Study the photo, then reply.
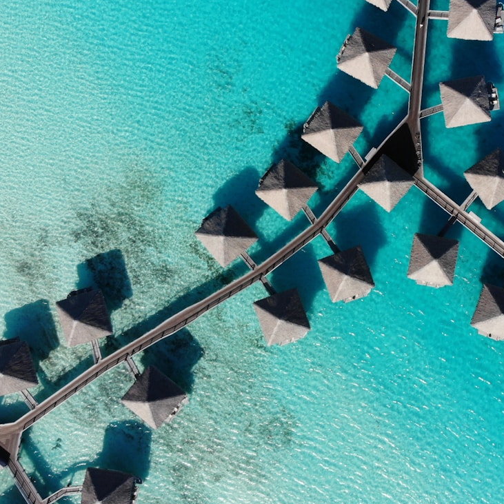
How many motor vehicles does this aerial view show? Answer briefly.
zero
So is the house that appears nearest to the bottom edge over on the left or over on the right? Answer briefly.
left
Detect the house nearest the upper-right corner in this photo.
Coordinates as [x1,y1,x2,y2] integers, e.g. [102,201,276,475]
[447,0,504,42]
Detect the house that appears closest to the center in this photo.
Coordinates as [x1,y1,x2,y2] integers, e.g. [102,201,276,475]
[195,205,257,267]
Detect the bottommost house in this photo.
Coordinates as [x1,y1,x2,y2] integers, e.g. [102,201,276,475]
[81,467,142,504]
